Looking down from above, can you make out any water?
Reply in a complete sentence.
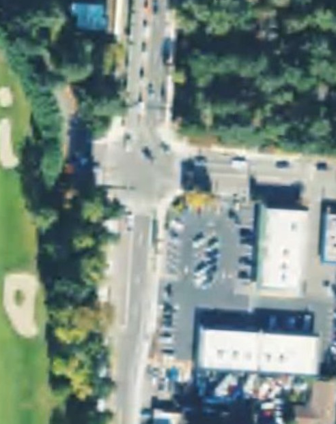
No, the picture contains no water.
